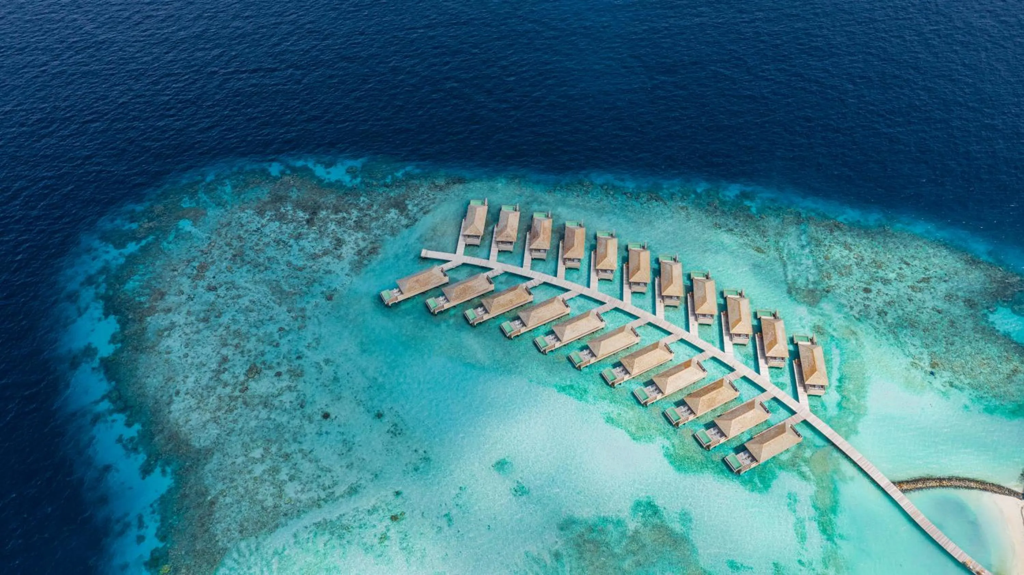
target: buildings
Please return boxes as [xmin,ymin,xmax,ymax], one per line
[507,296,572,342]
[792,336,828,397]
[661,255,683,309]
[757,310,788,369]
[564,221,585,272]
[723,291,752,347]
[380,265,450,312]
[426,272,496,319]
[596,231,617,284]
[641,359,708,409]
[690,272,717,325]
[576,324,641,372]
[464,284,535,330]
[530,216,552,264]
[704,399,772,452]
[734,422,803,477]
[609,341,676,389]
[627,247,650,297]
[496,207,519,257]
[463,203,487,251]
[673,378,741,429]
[542,309,607,355]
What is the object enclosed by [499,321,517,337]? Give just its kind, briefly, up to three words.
swimming pool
